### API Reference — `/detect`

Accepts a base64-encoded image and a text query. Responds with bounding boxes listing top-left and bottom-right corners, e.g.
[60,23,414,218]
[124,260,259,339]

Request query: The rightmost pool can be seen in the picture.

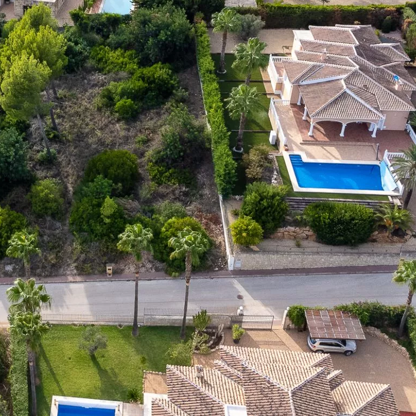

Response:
[283,151,402,193]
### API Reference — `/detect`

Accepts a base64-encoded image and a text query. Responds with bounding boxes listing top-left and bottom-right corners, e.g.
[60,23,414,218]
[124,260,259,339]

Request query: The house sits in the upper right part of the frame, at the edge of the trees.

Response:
[282,22,416,137]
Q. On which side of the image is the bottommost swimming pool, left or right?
left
